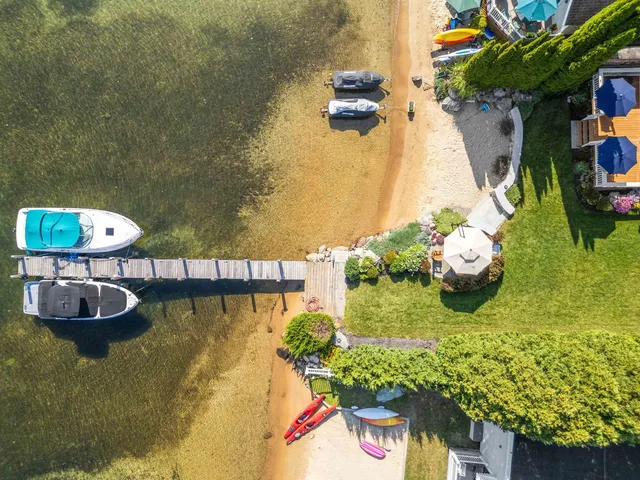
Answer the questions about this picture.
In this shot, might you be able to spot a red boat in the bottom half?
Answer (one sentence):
Yes, there is a red boat in the bottom half.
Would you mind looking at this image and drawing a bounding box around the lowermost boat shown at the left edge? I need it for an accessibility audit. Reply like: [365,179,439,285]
[26,279,141,319]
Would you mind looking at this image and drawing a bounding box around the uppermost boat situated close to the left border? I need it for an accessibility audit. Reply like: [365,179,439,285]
[14,208,147,255]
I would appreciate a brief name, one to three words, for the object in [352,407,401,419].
boat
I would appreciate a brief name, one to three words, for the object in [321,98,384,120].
boat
